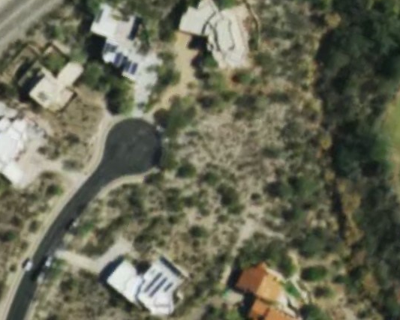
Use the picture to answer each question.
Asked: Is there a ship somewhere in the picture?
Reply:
No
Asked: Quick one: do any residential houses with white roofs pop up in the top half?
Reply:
Yes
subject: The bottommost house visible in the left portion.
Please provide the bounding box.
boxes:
[108,258,183,318]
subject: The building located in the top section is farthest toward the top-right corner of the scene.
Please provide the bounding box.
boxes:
[179,0,249,70]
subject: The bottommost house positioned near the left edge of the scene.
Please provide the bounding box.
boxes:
[0,117,30,188]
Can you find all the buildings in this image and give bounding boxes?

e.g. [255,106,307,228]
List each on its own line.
[108,258,183,318]
[237,264,300,320]
[29,62,83,113]
[90,4,145,81]
[0,117,30,188]
[179,0,249,70]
